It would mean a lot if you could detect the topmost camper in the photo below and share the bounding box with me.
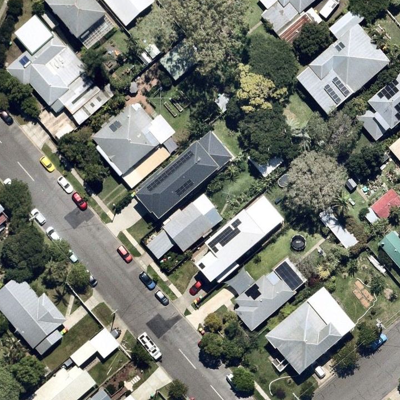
[319,0,339,18]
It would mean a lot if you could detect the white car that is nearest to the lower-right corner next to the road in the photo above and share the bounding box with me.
[312,361,329,381]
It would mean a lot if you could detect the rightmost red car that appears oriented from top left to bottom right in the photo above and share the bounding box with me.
[117,244,133,263]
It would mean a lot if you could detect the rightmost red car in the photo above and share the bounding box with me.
[186,278,206,297]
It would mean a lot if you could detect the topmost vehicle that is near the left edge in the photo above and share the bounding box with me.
[0,107,15,127]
